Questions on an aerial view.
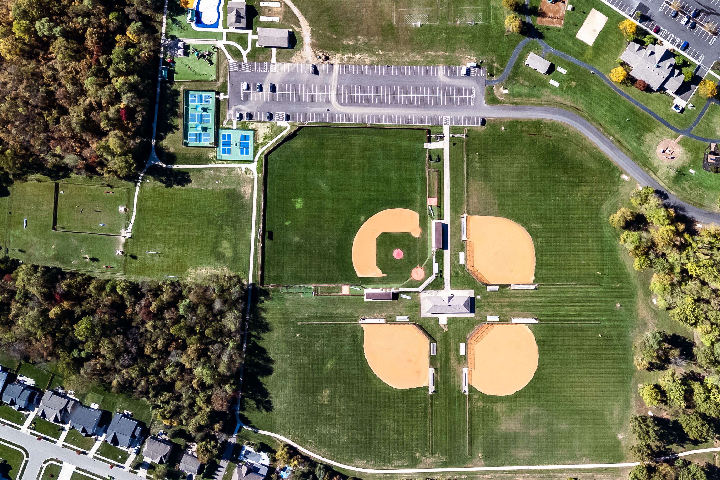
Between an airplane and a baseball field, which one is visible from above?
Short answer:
baseball field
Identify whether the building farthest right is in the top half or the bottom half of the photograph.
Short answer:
top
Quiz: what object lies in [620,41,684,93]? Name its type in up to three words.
building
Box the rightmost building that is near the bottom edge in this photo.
[233,460,268,480]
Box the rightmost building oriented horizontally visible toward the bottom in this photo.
[426,296,470,312]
